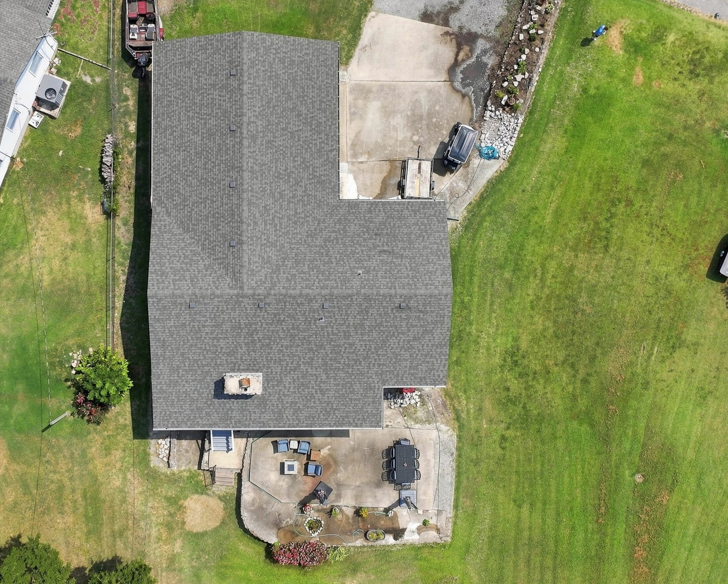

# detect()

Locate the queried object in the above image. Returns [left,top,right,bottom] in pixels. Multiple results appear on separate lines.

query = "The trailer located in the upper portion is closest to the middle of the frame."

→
[401,145,436,197]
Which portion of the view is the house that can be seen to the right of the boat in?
center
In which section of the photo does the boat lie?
top left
